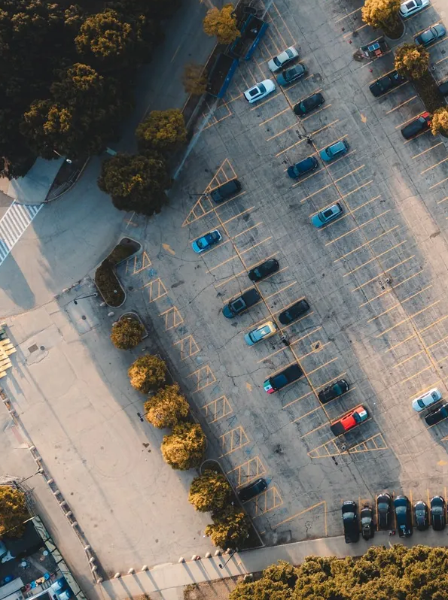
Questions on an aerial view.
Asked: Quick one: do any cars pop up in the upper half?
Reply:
Yes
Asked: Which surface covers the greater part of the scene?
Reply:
paved ground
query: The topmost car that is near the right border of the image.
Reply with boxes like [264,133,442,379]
[400,0,429,16]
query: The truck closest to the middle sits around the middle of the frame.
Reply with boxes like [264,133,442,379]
[223,291,260,318]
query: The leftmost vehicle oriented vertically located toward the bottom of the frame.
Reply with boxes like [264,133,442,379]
[341,502,356,542]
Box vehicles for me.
[317,379,348,402]
[424,402,448,426]
[209,178,242,202]
[360,508,374,539]
[295,93,323,115]
[376,494,392,527]
[312,204,342,226]
[246,321,276,345]
[400,0,429,16]
[223,291,260,318]
[268,47,299,69]
[278,299,312,324]
[341,502,356,542]
[436,80,448,96]
[243,80,275,102]
[413,22,446,46]
[414,500,428,529]
[320,138,350,161]
[287,155,317,178]
[400,113,434,139]
[412,387,442,411]
[369,68,406,96]
[248,259,280,281]
[276,62,307,86]
[236,478,268,502]
[394,498,409,536]
[429,496,444,529]
[265,364,301,392]
[192,229,222,253]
